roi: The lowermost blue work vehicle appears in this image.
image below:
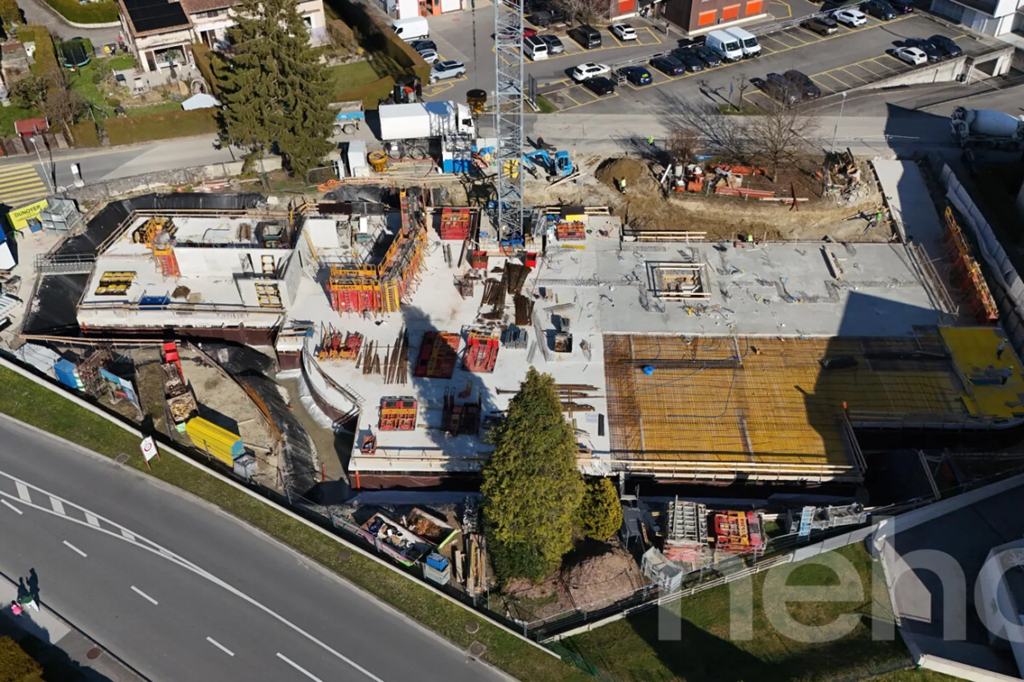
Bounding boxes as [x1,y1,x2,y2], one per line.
[523,146,579,177]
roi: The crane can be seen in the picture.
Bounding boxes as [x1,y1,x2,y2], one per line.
[485,0,536,260]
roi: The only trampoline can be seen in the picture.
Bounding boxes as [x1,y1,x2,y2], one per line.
[54,36,91,64]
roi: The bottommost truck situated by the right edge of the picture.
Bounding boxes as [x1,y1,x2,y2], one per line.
[938,108,1024,151]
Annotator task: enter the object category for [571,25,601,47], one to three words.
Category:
vehicle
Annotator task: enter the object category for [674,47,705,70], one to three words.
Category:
car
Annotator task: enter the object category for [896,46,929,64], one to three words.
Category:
car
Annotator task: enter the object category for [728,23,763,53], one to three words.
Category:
van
